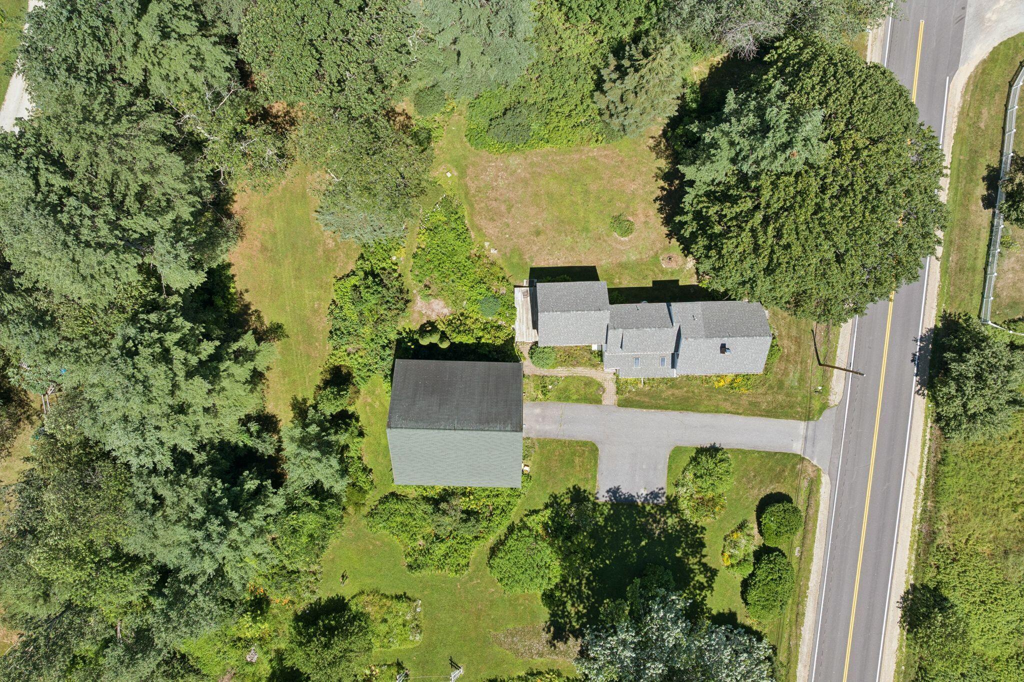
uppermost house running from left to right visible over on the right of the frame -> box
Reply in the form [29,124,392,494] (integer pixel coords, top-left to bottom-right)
[536,282,773,379]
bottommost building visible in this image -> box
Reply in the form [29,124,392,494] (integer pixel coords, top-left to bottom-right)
[387,359,524,488]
